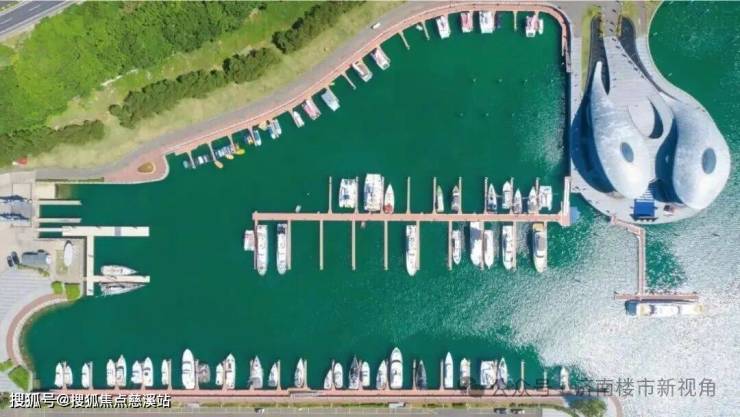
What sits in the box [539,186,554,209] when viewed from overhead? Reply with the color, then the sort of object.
white boat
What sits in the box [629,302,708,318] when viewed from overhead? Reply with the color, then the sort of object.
white ship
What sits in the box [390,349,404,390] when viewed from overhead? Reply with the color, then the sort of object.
white boat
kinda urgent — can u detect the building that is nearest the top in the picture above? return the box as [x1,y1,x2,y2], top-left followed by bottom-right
[572,36,731,208]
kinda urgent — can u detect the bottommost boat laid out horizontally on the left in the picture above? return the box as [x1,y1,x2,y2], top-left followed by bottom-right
[98,283,142,296]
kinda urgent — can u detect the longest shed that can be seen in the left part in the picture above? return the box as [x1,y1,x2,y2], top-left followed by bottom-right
[18,251,51,265]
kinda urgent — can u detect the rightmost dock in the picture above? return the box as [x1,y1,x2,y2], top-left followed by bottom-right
[605,212,698,300]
